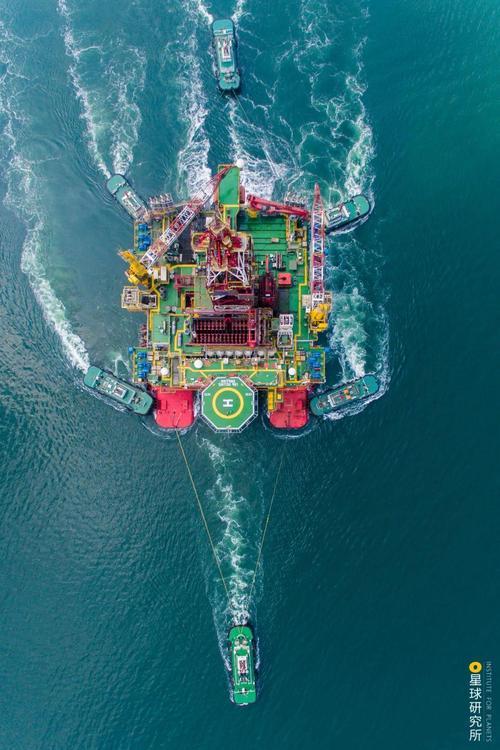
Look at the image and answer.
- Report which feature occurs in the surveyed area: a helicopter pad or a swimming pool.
helicopter pad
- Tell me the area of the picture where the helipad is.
center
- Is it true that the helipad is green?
Yes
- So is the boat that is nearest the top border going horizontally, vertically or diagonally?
vertically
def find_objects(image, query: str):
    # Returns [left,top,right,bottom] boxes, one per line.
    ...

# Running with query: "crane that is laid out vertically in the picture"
[305,182,333,337]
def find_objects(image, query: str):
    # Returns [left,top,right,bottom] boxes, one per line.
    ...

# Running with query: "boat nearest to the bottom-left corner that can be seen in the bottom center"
[227,623,256,706]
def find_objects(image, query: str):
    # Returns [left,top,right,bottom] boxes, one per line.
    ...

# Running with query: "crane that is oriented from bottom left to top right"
[123,165,230,305]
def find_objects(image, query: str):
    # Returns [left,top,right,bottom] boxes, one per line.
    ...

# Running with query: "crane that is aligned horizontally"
[246,196,312,221]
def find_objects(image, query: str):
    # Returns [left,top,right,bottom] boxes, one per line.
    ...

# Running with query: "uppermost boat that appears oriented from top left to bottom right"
[107,173,152,221]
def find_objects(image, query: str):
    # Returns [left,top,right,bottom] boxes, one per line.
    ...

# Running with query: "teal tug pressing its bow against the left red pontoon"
[83,363,153,415]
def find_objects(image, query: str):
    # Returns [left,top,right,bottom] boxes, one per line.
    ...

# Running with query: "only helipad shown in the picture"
[199,374,259,434]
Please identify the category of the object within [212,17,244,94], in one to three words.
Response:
boat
